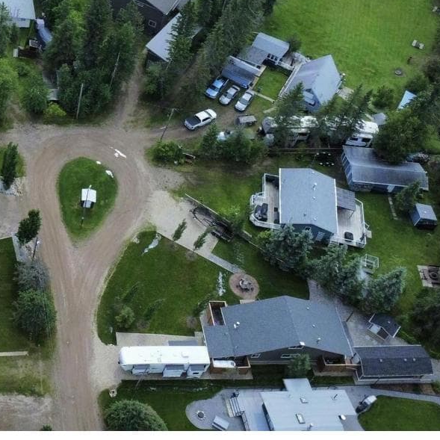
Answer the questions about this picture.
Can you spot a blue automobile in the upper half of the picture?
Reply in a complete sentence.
Yes, a blue automobile is visible in the upper half of the picture.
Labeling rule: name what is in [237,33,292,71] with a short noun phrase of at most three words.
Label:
building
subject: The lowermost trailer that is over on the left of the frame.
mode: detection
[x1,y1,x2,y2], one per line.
[114,345,210,382]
